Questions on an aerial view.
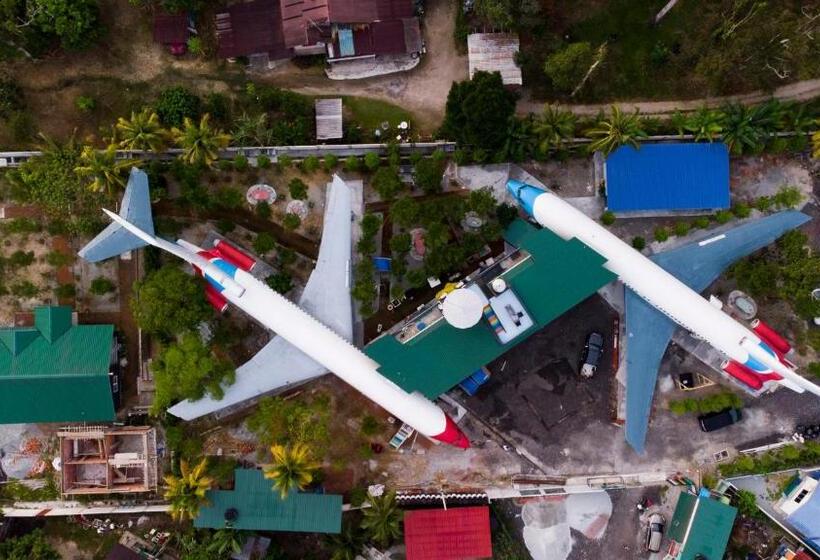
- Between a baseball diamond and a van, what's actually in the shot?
van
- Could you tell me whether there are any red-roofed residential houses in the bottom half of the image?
Yes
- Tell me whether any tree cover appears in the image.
Yes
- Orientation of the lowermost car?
vertically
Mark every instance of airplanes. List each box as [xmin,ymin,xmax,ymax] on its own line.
[77,167,468,446]
[508,183,820,456]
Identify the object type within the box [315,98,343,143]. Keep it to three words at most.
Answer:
shed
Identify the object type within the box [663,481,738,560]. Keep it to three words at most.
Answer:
house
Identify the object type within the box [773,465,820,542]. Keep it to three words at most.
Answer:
house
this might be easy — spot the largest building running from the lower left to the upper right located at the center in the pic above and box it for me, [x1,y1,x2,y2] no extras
[364,220,616,401]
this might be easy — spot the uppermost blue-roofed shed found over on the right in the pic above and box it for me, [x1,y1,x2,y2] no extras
[597,143,730,214]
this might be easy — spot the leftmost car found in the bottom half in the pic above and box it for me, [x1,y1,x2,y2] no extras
[579,332,604,377]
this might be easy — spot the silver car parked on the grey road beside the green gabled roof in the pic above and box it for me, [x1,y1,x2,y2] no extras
[644,511,665,554]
